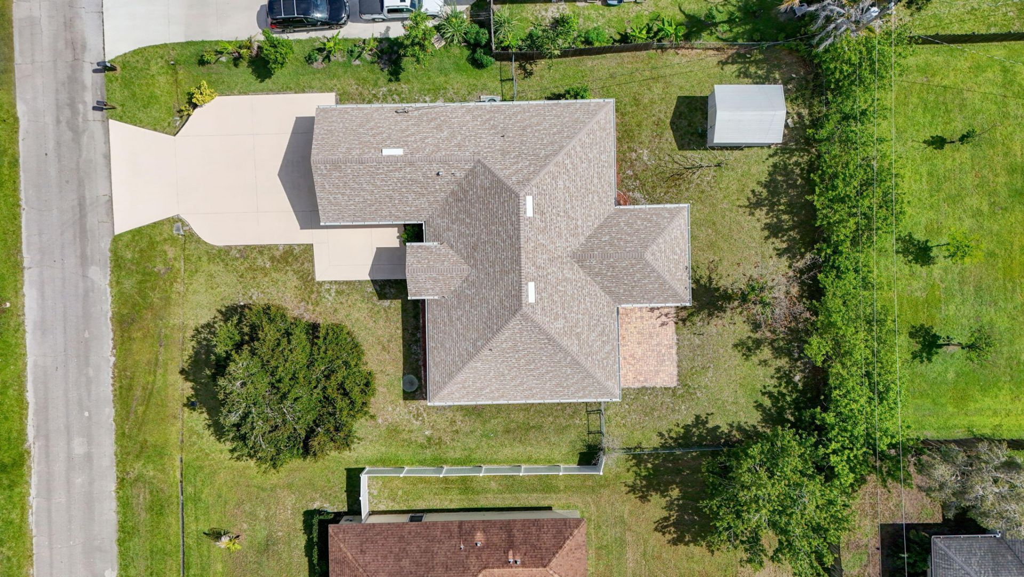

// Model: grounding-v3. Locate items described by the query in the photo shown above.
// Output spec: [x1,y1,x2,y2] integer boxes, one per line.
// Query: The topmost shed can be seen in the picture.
[707,85,786,147]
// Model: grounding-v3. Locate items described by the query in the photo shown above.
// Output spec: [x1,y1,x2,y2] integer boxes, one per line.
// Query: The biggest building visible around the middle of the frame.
[311,97,693,407]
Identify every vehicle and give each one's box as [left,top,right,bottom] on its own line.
[262,0,349,34]
[358,0,447,23]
